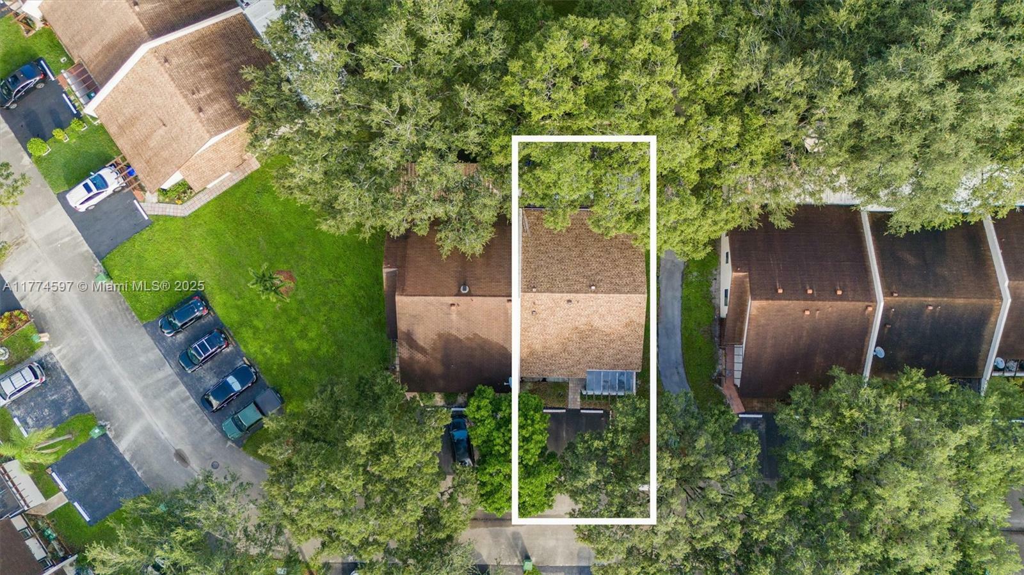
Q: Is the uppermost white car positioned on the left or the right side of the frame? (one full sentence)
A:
It is on the left.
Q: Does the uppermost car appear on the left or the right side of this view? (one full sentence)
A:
You can find the uppermost car on the left side of the picture.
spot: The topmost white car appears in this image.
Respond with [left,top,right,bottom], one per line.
[68,163,131,212]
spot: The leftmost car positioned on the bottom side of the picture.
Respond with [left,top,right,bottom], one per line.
[0,357,57,407]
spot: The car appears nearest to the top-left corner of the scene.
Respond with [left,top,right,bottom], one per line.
[0,60,56,110]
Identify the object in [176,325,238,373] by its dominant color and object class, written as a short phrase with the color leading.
blue car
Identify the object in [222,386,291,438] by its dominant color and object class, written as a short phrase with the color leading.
blue truck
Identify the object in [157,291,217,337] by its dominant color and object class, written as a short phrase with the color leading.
blue car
